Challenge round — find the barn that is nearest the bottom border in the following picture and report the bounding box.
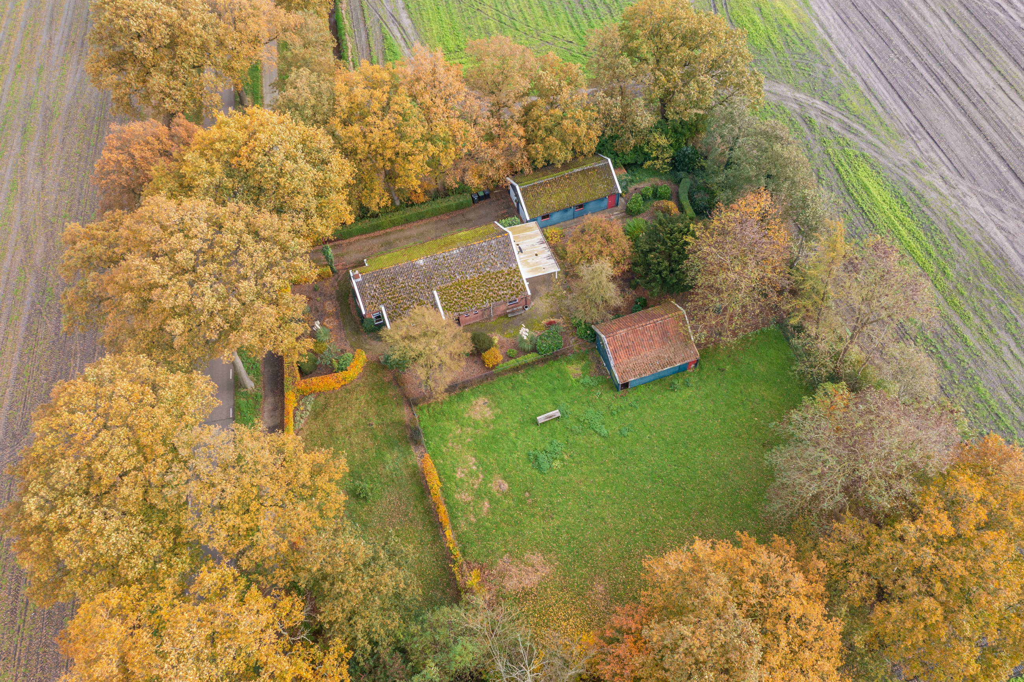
[594,301,701,393]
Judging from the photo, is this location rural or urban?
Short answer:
rural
